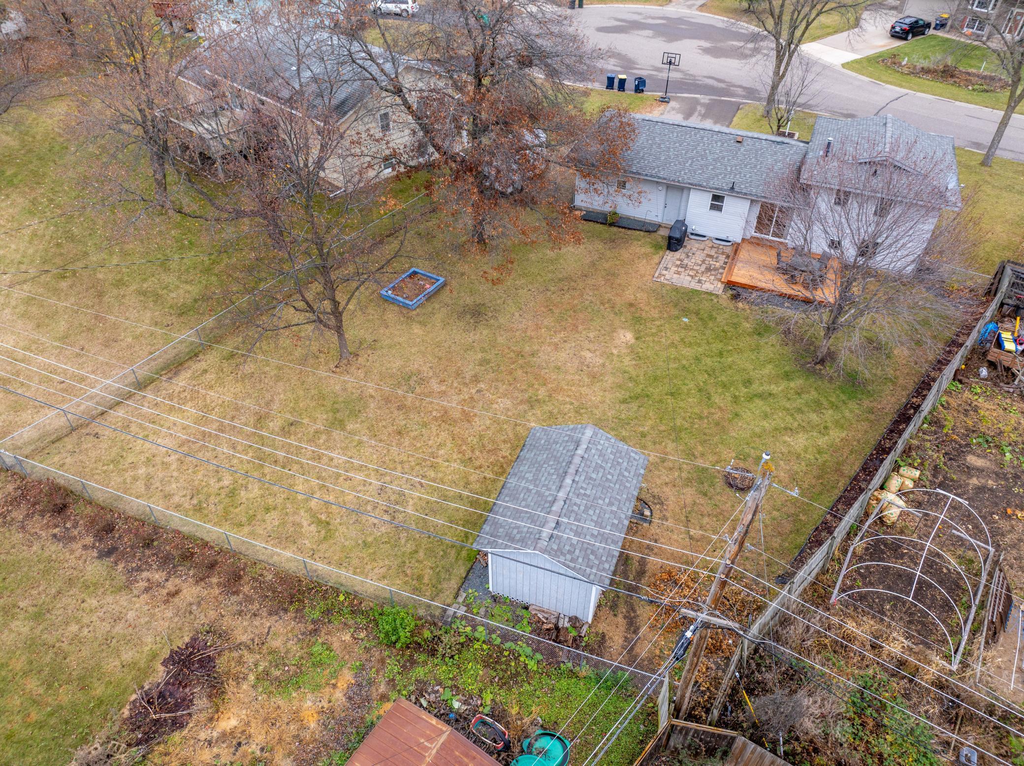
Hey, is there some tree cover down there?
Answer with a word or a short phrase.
Yes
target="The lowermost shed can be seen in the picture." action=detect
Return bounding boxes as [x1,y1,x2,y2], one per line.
[347,696,498,766]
